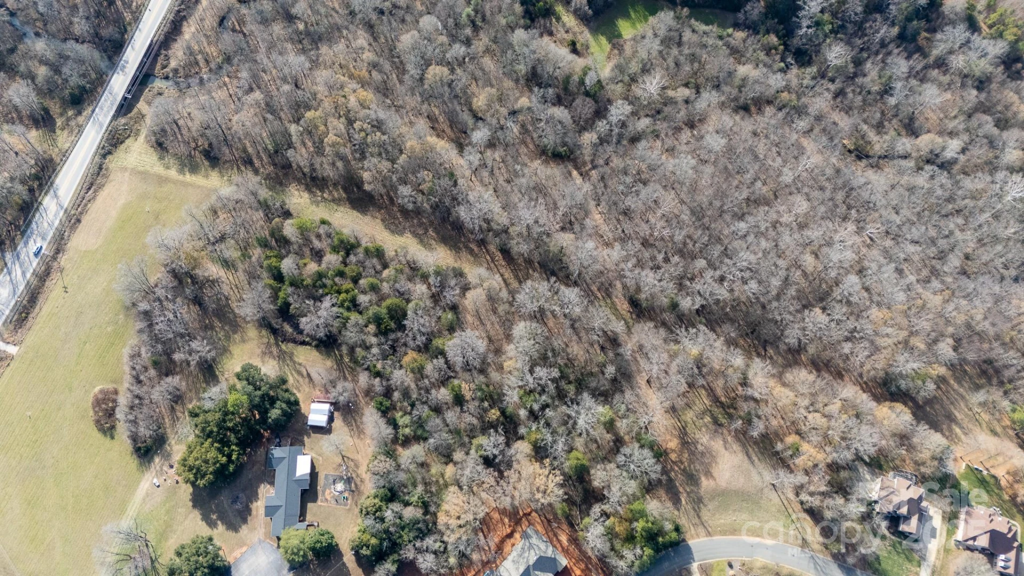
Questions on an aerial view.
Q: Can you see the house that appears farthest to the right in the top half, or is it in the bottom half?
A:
bottom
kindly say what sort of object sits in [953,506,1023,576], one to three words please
house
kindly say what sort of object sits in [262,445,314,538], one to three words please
house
